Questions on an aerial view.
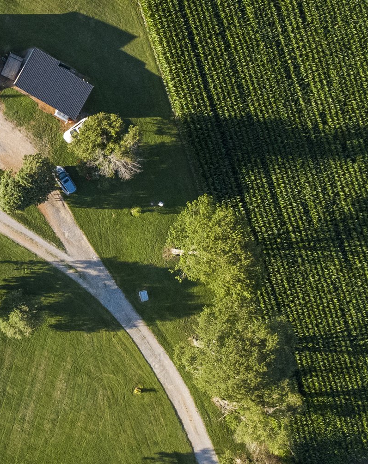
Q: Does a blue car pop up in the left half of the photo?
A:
Yes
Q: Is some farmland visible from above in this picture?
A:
Yes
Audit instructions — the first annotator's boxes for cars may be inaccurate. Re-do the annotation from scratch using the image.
[62,110,94,141]
[54,165,80,199]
